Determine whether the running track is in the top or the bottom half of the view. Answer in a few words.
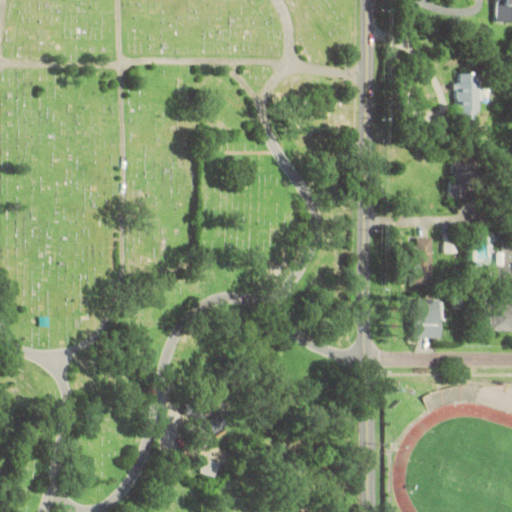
bottom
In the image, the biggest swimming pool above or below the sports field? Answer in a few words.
above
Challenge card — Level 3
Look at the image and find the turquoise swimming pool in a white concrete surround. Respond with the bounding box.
[472,236,494,264]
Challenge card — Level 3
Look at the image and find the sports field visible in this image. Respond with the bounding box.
[407,418,512,512]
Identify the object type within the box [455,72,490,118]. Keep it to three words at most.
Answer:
house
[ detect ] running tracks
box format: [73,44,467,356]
[393,404,512,512]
